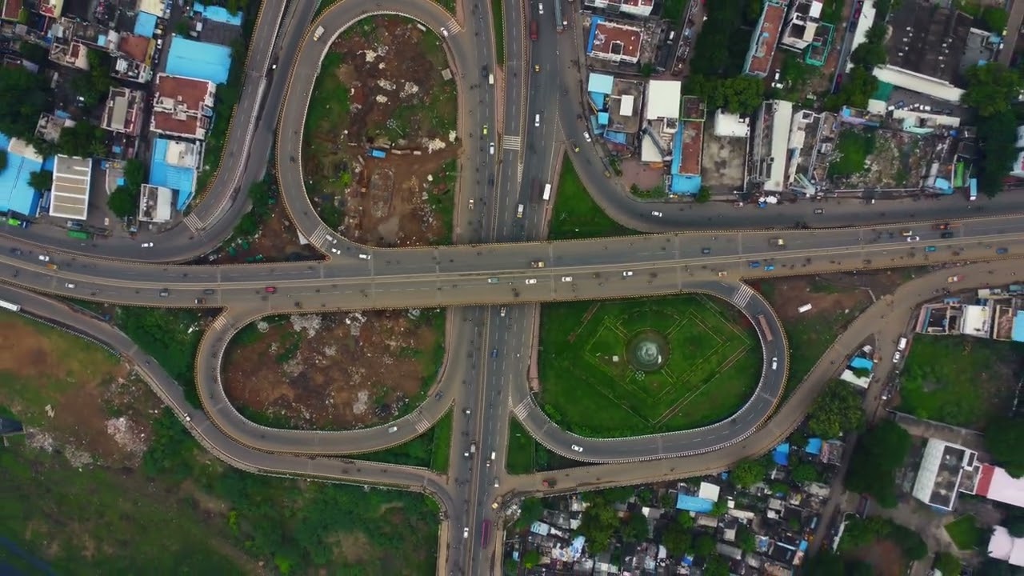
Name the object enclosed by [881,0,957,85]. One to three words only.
building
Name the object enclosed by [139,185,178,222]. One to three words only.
house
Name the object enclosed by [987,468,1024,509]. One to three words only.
shed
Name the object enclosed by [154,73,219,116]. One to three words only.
house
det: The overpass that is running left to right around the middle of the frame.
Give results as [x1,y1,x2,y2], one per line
[0,212,1024,314]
